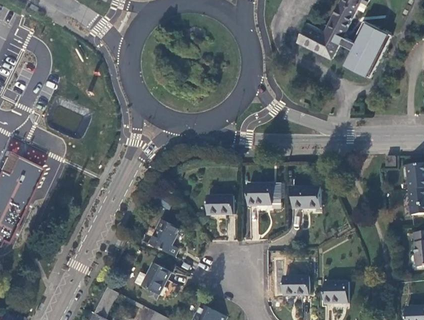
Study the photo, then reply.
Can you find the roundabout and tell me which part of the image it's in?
top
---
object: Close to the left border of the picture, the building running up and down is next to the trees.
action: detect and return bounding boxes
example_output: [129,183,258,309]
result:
[0,139,49,247]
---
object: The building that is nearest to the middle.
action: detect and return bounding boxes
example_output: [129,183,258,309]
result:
[202,194,235,216]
